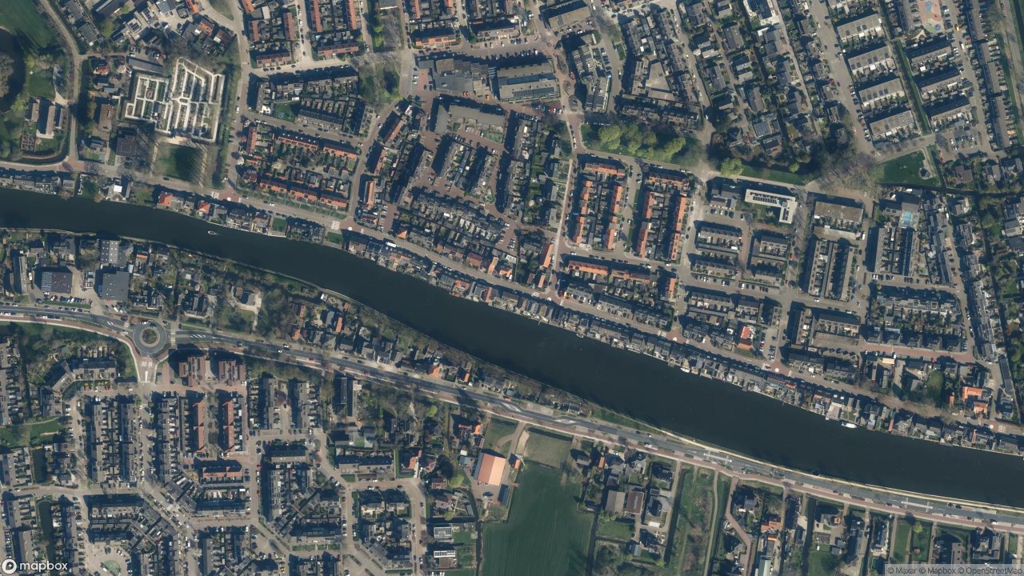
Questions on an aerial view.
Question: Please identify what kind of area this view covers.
residential area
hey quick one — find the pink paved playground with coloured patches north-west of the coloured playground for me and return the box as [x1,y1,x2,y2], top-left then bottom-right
[918,0,944,33]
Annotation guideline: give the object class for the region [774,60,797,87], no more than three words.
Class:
house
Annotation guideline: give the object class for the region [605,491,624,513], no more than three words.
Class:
barn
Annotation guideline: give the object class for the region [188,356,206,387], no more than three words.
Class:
building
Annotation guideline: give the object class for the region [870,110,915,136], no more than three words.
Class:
building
